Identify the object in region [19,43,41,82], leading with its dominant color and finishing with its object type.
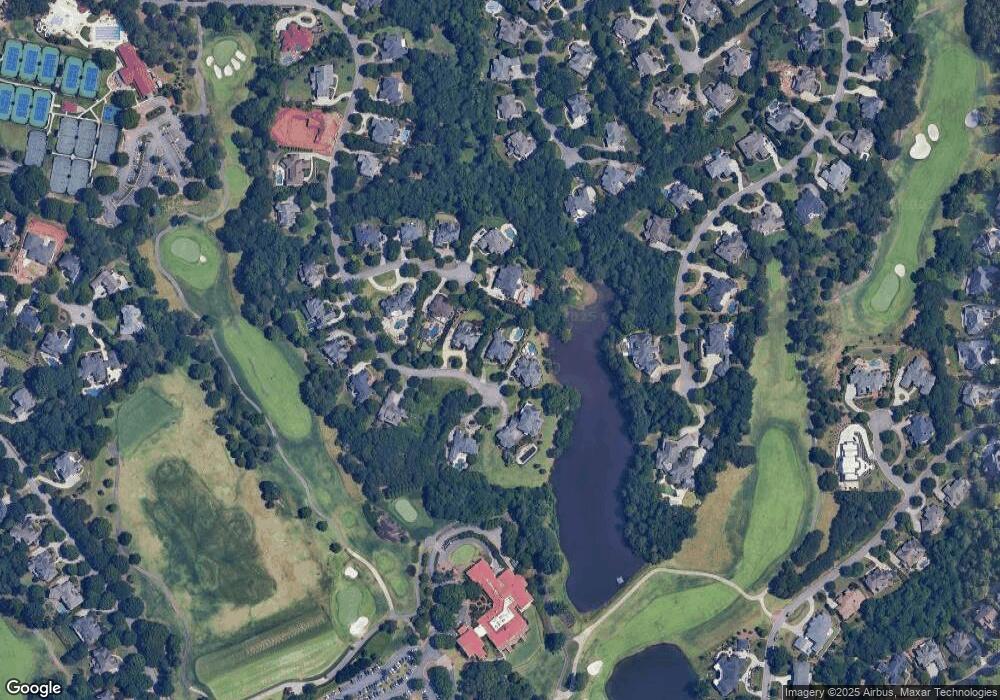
blue tennis court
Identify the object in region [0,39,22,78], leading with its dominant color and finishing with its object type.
blue tennis court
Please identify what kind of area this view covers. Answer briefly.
residential area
